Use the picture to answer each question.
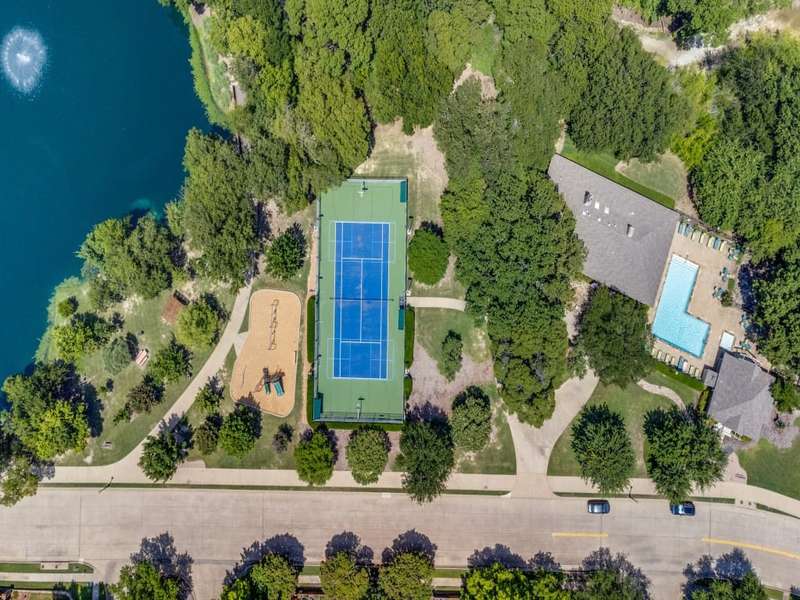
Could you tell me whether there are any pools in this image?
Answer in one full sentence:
Yes, the photo shows a pool.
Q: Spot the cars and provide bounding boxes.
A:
[669,500,693,515]
[587,499,609,515]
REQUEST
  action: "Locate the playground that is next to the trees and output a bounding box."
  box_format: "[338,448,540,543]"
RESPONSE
[230,288,302,418]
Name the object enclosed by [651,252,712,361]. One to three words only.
swimming pool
